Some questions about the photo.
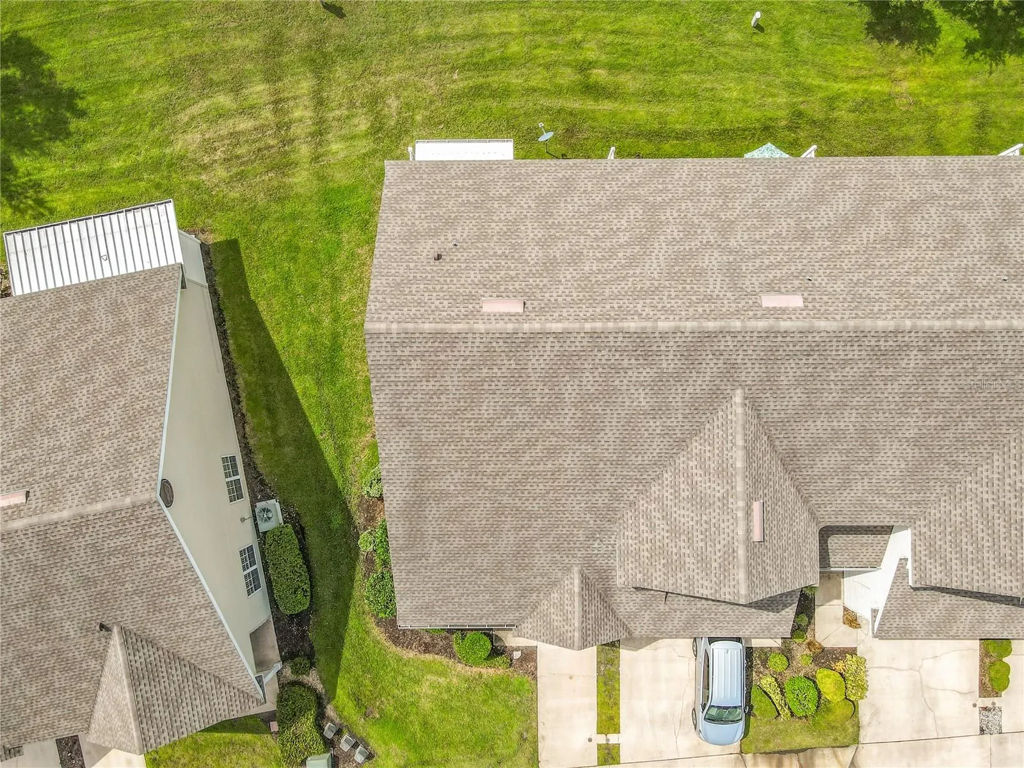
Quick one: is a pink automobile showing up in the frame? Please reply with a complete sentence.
No, the photo shows no pink automobile.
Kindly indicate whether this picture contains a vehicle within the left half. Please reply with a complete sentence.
No, there is no vehicle within the left half.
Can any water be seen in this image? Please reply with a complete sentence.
No, there's no water in this view.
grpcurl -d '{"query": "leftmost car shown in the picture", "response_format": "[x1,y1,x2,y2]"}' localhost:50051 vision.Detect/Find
[692,637,752,748]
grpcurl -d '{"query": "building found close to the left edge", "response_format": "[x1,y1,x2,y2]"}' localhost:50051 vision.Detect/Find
[0,197,287,760]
